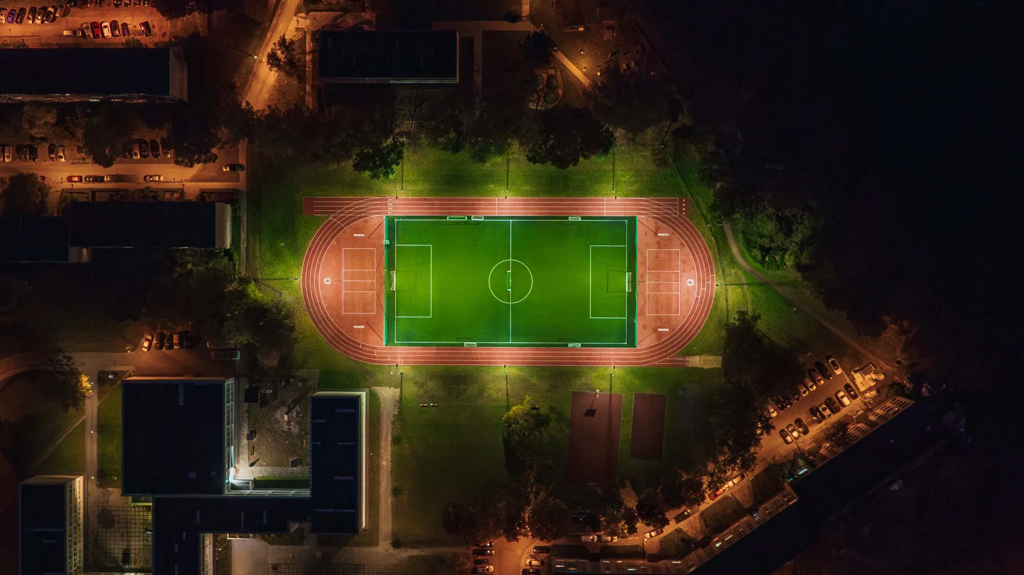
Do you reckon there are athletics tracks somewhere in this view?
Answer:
Yes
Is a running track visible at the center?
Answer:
Yes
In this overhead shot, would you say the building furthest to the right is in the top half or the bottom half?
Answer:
bottom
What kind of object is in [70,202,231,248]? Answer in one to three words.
building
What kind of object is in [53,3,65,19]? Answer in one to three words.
vehicle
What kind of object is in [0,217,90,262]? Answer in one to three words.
building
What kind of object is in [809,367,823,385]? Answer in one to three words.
car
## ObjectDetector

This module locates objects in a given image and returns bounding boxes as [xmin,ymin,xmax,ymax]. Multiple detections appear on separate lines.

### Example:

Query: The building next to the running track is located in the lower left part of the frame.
[122,379,364,575]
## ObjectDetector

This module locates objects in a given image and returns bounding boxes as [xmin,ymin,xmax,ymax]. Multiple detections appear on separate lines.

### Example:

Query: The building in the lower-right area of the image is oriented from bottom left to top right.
[777,396,945,528]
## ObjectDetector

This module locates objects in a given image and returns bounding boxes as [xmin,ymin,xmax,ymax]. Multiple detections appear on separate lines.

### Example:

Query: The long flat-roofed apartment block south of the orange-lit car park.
[0,48,187,104]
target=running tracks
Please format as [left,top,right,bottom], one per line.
[301,215,715,367]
